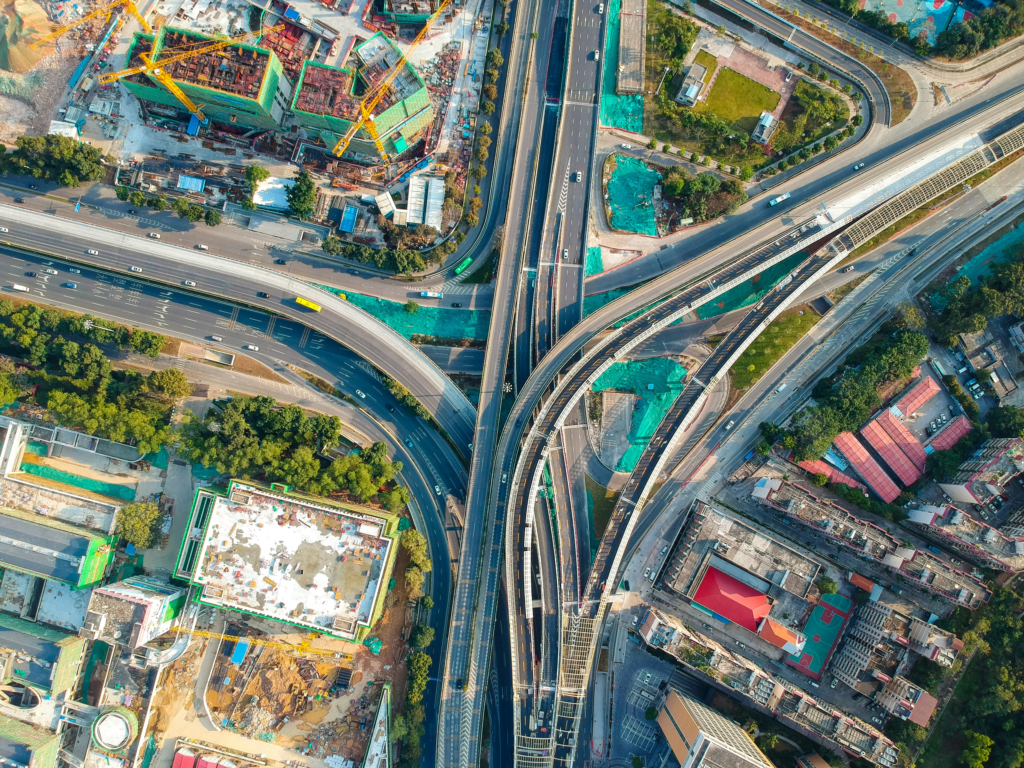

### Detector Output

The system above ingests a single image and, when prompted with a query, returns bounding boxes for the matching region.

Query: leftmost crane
[30,0,160,50]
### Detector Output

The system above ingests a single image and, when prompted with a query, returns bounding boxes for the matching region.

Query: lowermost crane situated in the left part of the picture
[165,627,351,662]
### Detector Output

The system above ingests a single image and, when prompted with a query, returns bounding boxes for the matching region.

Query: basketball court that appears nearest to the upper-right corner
[853,0,972,48]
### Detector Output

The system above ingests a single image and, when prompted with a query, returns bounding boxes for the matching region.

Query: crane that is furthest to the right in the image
[333,0,454,169]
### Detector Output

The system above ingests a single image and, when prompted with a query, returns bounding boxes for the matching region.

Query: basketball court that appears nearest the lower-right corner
[786,594,857,680]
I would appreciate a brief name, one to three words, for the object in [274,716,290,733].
vehicle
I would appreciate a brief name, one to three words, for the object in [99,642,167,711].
house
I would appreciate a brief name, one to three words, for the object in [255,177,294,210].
shed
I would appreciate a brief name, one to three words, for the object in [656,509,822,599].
building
